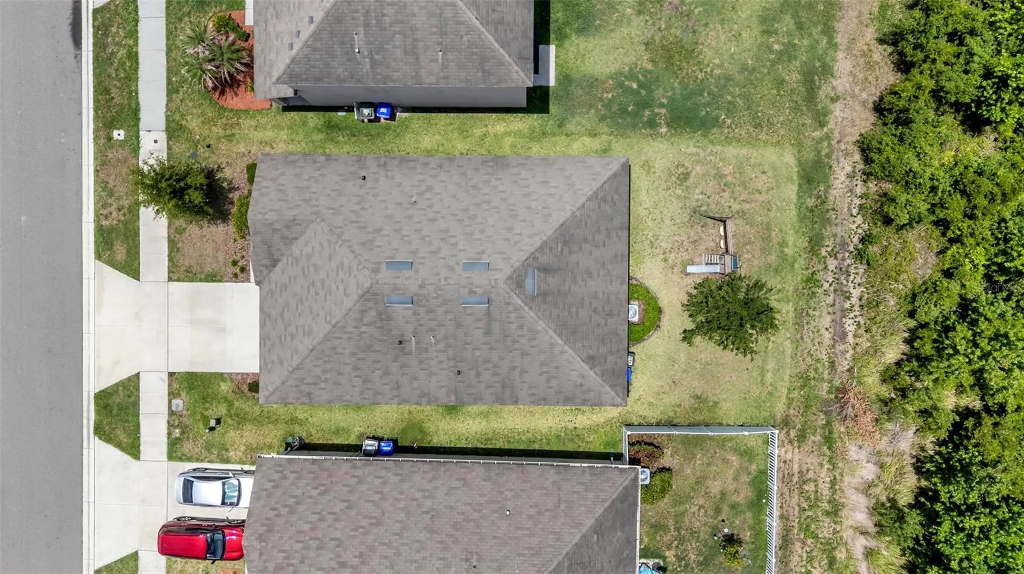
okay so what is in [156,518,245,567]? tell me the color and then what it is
red car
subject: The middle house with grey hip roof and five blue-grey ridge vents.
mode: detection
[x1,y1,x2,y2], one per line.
[249,155,632,408]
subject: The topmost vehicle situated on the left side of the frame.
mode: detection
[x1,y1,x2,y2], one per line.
[172,468,255,514]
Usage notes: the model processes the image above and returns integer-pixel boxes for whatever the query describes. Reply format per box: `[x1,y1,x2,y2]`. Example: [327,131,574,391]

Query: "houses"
[241,449,640,574]
[253,0,535,107]
[249,155,632,408]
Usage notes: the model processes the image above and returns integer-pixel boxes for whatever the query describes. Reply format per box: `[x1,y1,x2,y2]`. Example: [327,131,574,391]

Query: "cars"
[172,468,255,514]
[156,518,245,567]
